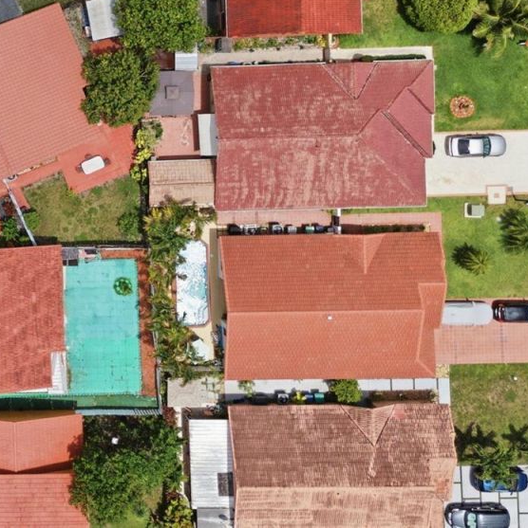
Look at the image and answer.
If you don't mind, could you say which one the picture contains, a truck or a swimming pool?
swimming pool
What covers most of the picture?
buildings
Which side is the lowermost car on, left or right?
right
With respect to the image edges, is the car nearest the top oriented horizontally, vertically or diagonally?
horizontally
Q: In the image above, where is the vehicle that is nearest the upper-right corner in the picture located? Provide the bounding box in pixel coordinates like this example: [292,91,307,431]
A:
[444,132,507,159]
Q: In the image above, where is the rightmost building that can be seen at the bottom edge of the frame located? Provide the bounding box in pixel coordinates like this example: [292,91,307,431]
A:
[222,397,457,528]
